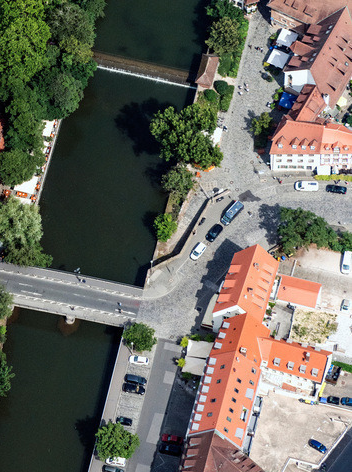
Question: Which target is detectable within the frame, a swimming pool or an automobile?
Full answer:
Visible in the photo is an automobile.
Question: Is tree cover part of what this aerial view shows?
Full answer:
Yes, there's tree cover in this view.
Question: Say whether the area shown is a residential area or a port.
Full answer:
This looks like a residential area.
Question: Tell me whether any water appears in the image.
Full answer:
Yes, some water is visible.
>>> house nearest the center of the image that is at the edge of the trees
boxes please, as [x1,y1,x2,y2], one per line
[212,245,278,331]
